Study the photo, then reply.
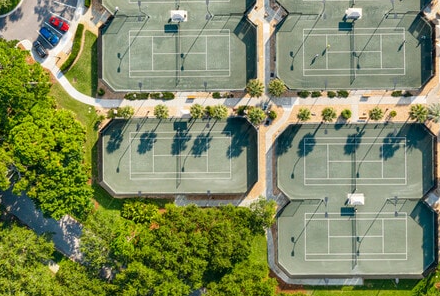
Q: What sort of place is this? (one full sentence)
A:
This looks like a sports ground.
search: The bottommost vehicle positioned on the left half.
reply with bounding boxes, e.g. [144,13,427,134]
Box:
[30,39,48,58]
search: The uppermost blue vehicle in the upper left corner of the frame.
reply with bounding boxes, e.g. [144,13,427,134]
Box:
[37,25,58,44]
